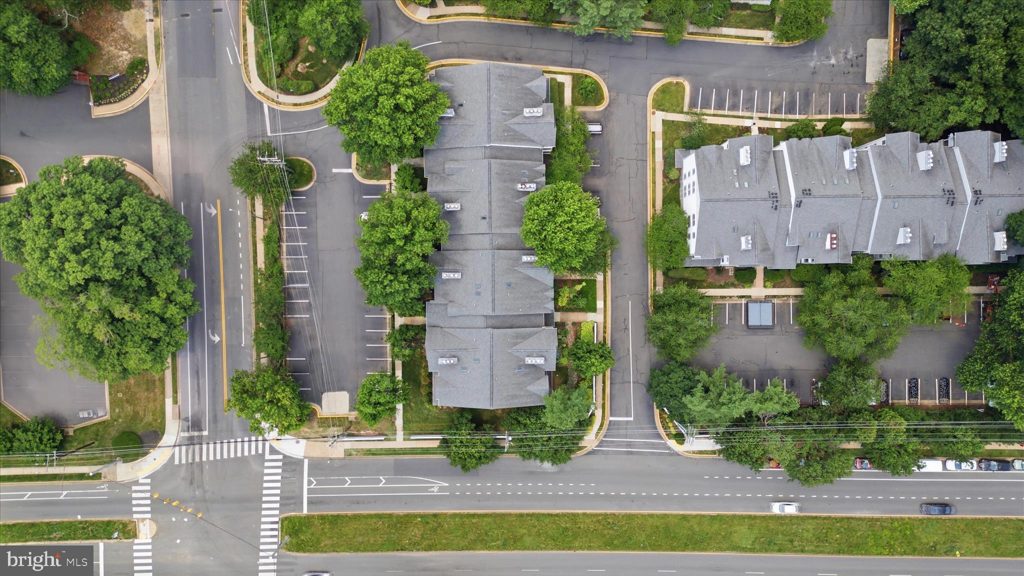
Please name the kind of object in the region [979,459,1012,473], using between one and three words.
car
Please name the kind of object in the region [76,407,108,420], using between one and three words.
vehicle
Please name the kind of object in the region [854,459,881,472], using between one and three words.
vehicle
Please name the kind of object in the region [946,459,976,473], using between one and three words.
car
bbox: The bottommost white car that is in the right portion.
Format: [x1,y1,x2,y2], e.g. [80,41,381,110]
[770,501,799,515]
